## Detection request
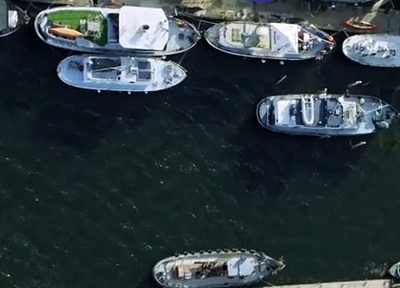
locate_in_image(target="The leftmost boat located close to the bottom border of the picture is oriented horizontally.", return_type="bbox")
[153,248,287,288]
